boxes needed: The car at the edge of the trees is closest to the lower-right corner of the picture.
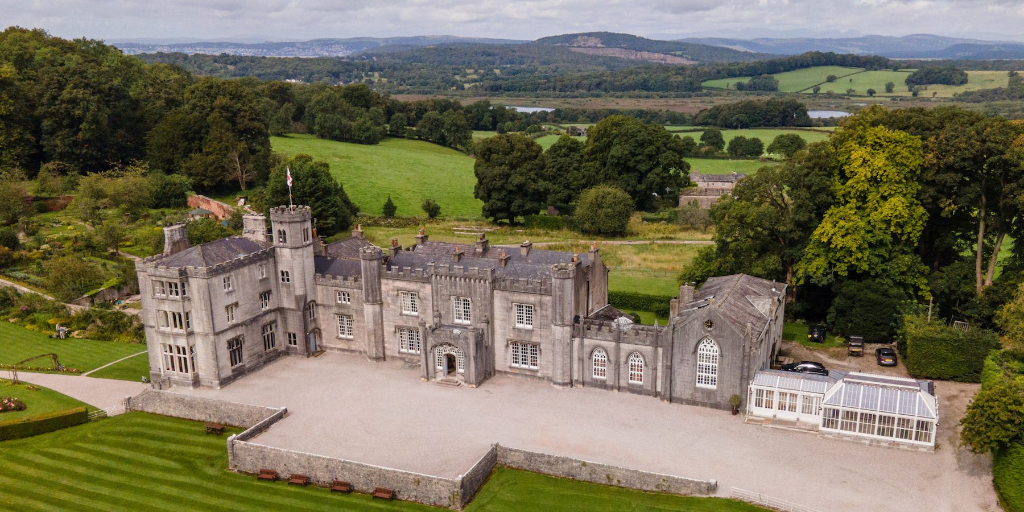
[875,345,900,365]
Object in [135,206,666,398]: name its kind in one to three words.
building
